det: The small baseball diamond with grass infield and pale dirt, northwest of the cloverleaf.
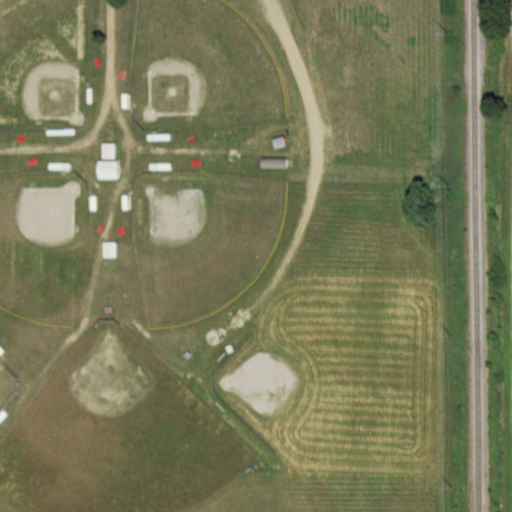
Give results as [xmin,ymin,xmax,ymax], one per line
[0,0,87,132]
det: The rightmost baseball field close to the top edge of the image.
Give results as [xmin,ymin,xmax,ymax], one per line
[134,0,287,130]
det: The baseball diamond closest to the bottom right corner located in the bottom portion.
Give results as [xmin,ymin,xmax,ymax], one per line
[214,341,300,425]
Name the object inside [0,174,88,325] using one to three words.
baseball field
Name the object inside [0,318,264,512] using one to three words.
baseball field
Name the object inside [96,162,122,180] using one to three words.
building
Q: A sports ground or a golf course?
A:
sports ground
